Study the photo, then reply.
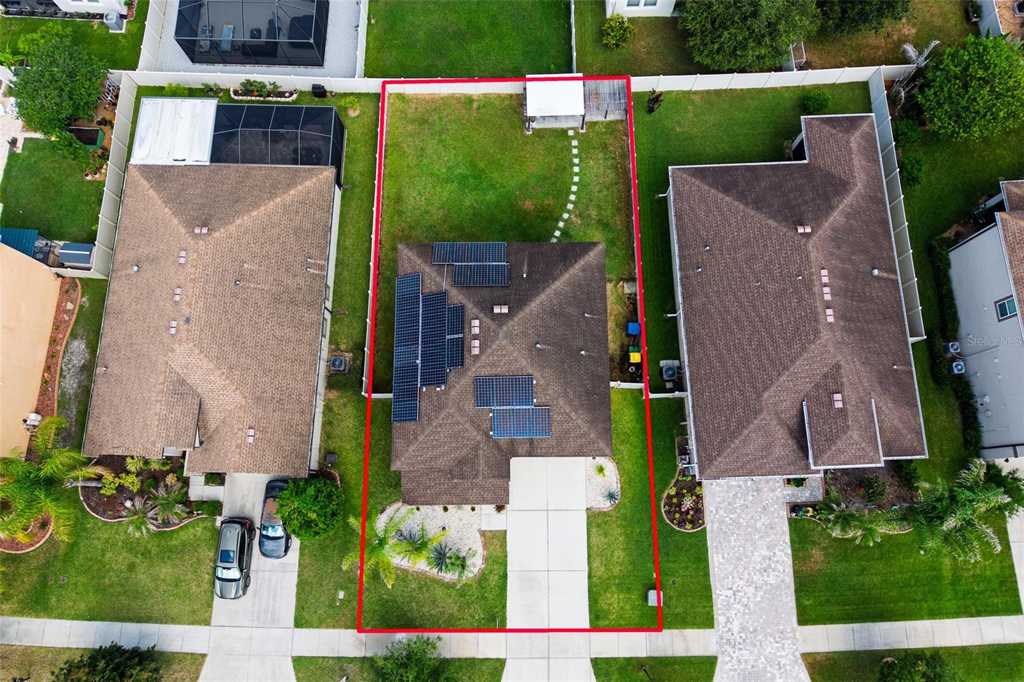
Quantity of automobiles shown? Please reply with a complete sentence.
The count of automobiles comes to 2.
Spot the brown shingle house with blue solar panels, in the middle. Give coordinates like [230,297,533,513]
[390,242,612,505]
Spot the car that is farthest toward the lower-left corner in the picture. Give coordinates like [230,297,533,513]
[208,516,257,602]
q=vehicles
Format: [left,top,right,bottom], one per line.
[208,516,257,602]
[252,479,293,562]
